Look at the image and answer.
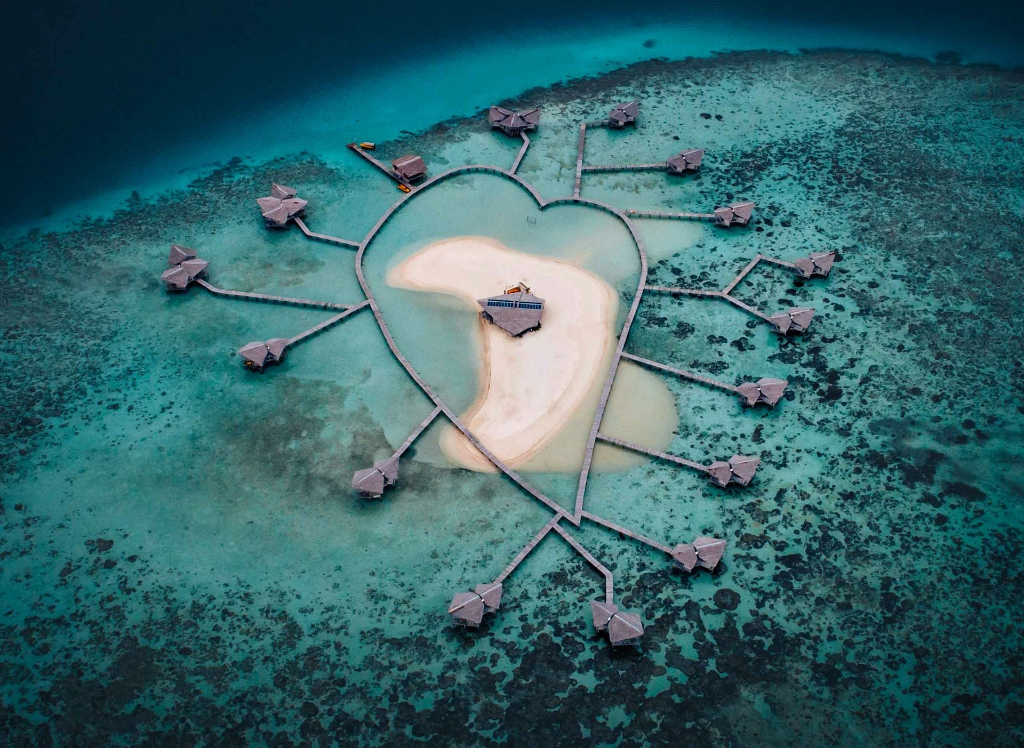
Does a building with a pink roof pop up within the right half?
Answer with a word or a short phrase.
No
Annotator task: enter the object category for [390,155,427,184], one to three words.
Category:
building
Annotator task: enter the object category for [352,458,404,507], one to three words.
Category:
house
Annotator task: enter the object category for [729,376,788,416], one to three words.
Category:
house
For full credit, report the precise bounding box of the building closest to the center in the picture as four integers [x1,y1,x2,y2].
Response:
[478,293,545,338]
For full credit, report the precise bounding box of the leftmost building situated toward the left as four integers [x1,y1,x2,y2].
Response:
[161,245,215,300]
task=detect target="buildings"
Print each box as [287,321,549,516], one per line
[729,376,788,416]
[257,184,311,235]
[587,602,643,653]
[667,533,726,578]
[447,583,504,634]
[239,338,292,378]
[488,106,542,143]
[787,252,835,287]
[161,245,215,300]
[664,150,704,180]
[352,458,404,507]
[607,99,642,133]
[390,155,427,184]
[710,203,755,233]
[478,293,545,338]
[703,453,760,495]
[763,306,815,344]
